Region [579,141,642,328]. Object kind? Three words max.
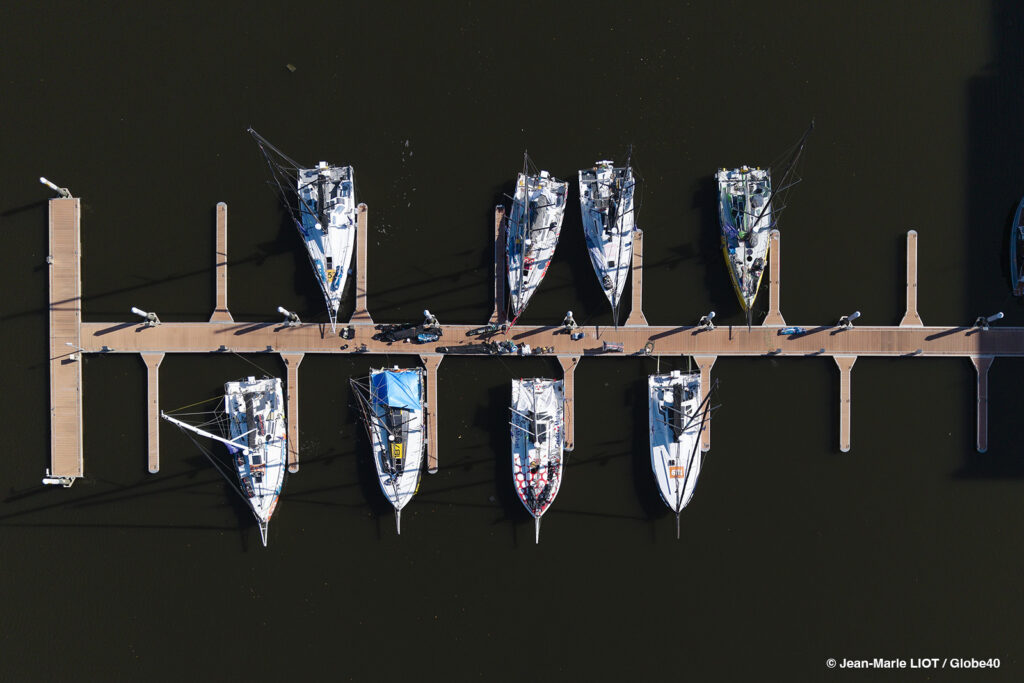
boat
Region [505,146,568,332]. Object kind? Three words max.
boat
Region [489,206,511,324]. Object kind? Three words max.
pier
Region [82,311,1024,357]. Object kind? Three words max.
pier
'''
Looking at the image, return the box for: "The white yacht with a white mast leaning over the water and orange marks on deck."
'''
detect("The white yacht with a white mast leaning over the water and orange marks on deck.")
[158,378,287,547]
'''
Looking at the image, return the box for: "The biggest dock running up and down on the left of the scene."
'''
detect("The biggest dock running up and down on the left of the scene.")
[42,189,85,487]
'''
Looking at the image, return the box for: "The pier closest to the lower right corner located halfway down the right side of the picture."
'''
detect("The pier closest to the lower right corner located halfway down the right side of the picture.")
[969,357,994,452]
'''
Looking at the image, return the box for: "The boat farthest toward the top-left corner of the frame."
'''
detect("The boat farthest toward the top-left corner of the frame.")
[249,123,356,333]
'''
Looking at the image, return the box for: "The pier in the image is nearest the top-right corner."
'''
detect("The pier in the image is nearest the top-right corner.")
[899,230,923,326]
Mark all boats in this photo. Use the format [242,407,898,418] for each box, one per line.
[505,146,568,332]
[579,141,642,328]
[158,378,287,547]
[350,363,424,534]
[249,123,356,333]
[648,370,718,538]
[717,117,815,329]
[510,377,564,544]
[1008,194,1024,297]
